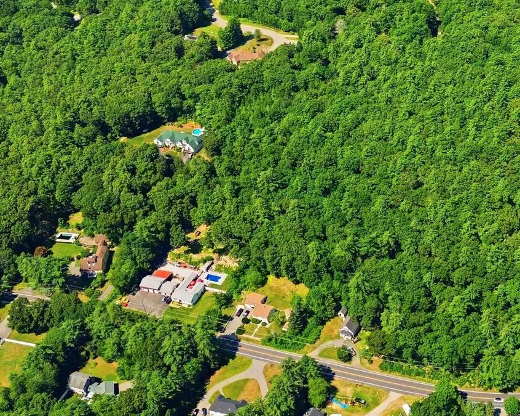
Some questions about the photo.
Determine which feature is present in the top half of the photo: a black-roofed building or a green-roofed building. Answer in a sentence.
Visible in the top half of the photo is a green-roofed building.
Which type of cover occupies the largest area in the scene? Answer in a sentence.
Most of the picture is covered by trees.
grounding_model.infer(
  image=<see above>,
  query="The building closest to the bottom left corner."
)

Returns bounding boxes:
[66,372,118,400]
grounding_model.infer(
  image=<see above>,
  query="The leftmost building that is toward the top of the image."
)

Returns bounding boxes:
[155,132,202,154]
